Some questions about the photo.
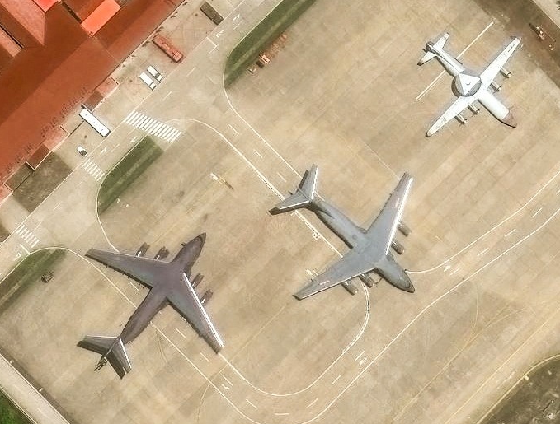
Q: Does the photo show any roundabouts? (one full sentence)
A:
No, the photo shows no roundabout.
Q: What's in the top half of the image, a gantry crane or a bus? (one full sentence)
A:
The feature located in the top half of the image is a bus.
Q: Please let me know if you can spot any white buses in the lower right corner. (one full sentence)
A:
No, I can find no white bus in the lower right corner.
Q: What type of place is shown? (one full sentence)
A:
The picture captures an airport.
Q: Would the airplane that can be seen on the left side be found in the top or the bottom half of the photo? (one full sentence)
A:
The airplane that can be seen on the left side is in the bottom half of the image.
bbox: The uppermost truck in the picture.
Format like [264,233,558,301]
[199,0,224,23]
